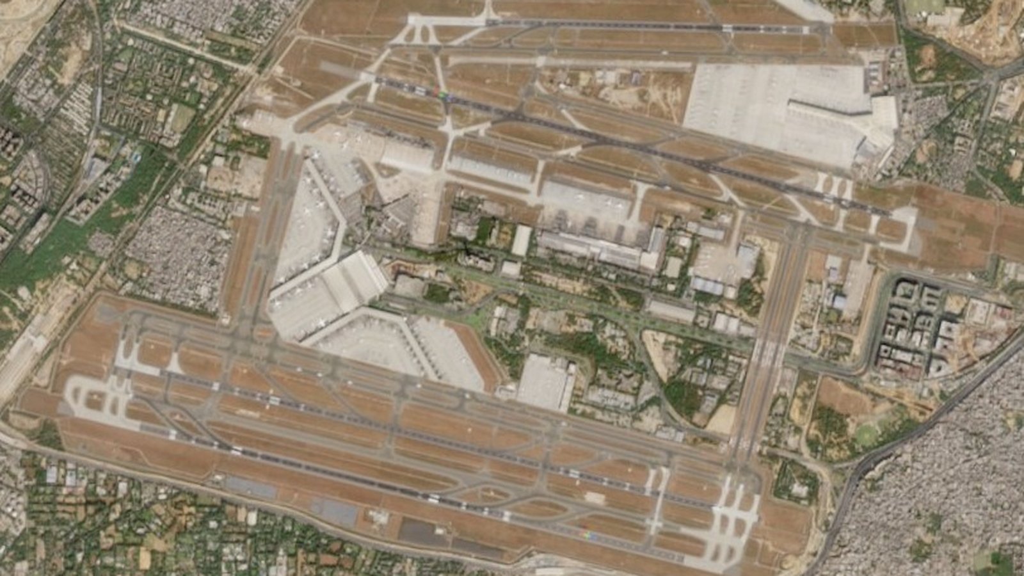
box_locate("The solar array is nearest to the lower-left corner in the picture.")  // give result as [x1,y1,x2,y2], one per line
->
[225,477,276,498]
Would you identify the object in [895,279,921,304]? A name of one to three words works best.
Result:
building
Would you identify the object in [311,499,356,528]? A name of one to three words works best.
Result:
solar array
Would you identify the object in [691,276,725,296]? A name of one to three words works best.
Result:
hangar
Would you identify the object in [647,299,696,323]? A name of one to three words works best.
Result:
building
